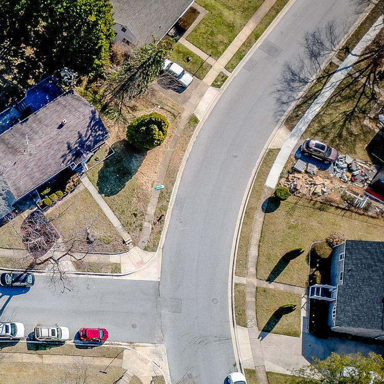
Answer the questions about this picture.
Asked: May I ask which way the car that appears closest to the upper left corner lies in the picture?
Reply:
diagonally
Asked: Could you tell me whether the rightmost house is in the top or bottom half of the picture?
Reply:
bottom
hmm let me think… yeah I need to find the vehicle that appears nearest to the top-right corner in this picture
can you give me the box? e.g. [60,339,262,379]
[297,138,337,164]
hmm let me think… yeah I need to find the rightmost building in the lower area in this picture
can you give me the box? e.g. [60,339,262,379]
[325,241,384,335]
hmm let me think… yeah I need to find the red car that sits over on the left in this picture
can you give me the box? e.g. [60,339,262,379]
[77,327,110,344]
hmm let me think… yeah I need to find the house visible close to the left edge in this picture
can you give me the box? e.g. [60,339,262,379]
[0,85,110,217]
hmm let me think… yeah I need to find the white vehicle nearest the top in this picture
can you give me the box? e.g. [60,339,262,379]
[157,56,197,91]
